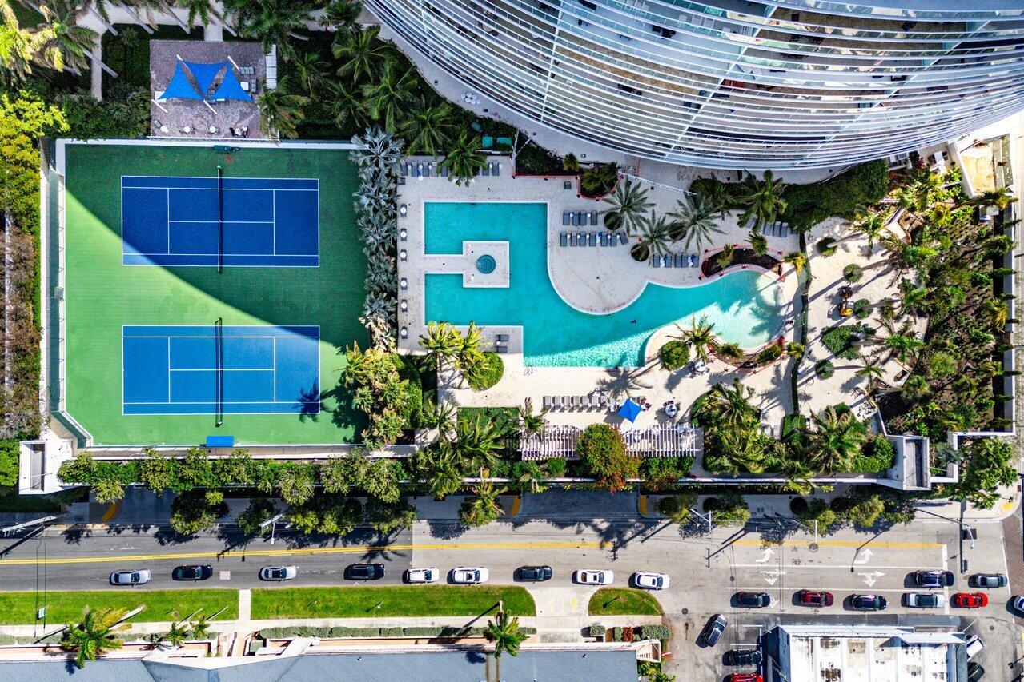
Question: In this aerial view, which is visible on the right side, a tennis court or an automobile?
automobile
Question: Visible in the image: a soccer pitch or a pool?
pool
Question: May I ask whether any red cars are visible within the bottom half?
Yes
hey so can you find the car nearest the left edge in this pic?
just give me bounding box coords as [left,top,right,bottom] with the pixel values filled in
[112,569,151,586]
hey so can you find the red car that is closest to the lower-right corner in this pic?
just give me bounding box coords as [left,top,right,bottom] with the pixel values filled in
[953,592,988,610]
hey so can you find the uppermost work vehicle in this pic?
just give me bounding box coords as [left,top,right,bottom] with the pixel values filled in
[837,280,853,307]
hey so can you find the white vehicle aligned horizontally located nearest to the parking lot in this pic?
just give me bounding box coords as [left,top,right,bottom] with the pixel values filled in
[634,572,671,591]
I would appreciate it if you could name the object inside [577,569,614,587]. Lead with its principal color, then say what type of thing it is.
white car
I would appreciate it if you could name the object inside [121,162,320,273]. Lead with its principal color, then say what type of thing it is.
blue tennis court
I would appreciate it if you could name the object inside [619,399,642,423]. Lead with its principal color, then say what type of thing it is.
blue umbrella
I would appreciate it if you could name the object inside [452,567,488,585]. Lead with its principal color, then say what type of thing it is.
white car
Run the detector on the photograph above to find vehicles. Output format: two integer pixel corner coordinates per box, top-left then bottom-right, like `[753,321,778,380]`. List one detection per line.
[967,656,991,682]
[953,592,988,610]
[452,567,488,585]
[971,572,1010,590]
[634,572,671,591]
[517,565,554,583]
[850,594,888,613]
[112,569,151,586]
[1008,593,1024,611]
[175,565,213,582]
[913,570,954,589]
[261,566,299,583]
[404,567,440,585]
[904,592,942,610]
[798,590,836,609]
[734,592,772,610]
[699,612,727,650]
[837,280,853,307]
[348,563,385,581]
[577,569,614,587]
[725,649,762,667]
